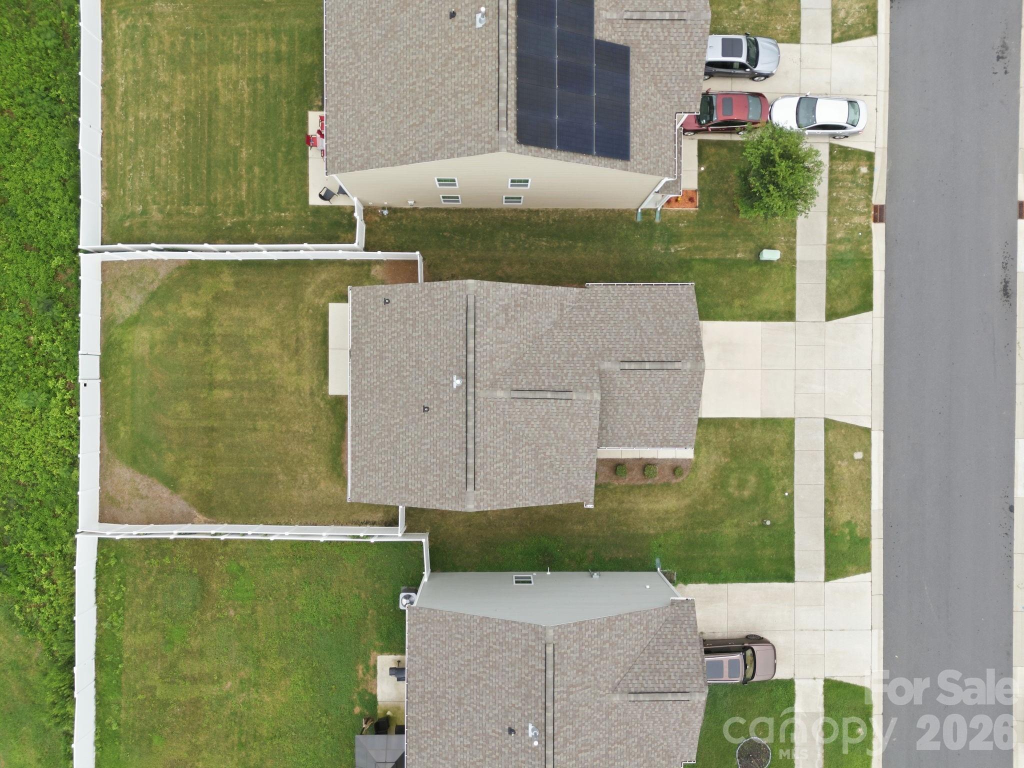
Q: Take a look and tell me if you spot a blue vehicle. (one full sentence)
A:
No, I can't see a single blue vehicle in this photo.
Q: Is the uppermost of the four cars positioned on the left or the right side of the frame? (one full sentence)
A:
It is on the right.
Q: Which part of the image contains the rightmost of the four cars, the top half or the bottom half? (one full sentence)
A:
It is in the top half that the rightmost of the four cars appears.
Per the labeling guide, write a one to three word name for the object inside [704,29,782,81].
car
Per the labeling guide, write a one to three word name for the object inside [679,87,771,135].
car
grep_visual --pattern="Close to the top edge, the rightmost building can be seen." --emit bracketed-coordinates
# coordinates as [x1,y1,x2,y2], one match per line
[322,0,710,213]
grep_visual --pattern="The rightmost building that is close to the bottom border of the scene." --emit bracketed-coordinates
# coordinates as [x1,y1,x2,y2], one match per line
[405,564,708,768]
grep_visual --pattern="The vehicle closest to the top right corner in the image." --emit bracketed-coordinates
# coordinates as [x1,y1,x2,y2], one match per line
[768,91,869,139]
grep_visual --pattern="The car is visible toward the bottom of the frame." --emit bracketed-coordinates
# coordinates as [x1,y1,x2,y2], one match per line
[700,634,778,686]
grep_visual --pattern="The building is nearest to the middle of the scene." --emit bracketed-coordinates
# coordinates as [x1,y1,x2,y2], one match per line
[346,279,704,511]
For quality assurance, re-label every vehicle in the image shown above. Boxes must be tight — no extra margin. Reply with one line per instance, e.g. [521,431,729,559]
[700,634,778,686]
[704,29,782,81]
[679,87,771,135]
[768,91,869,139]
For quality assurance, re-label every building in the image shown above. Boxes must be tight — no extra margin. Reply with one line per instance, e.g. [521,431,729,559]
[405,564,708,768]
[346,279,704,511]
[322,0,710,213]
